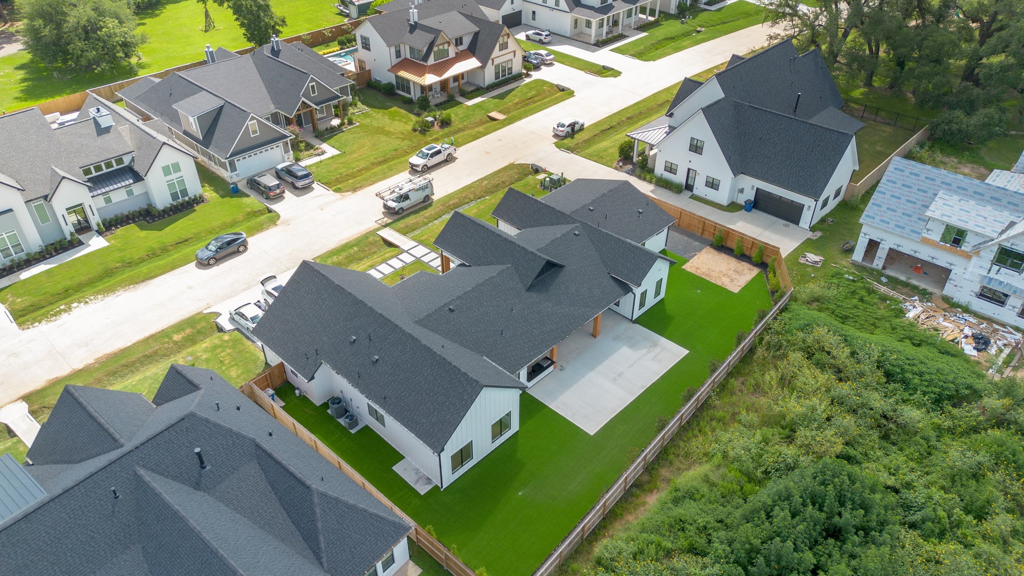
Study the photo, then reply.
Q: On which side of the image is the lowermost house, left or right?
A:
left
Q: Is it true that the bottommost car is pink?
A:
No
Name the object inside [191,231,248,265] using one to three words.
car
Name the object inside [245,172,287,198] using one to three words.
car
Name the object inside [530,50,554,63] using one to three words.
vehicle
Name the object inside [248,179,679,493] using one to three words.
house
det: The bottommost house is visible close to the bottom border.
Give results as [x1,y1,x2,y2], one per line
[0,362,417,576]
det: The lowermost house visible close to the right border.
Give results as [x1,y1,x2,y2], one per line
[850,143,1024,328]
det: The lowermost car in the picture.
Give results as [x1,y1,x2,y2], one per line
[227,299,266,333]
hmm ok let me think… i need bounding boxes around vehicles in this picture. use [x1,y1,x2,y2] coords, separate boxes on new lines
[553,119,584,136]
[245,172,287,198]
[259,270,288,304]
[523,51,542,68]
[525,30,552,43]
[377,170,434,214]
[274,163,314,188]
[407,143,455,172]
[191,231,248,265]
[227,299,266,333]
[530,50,554,63]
